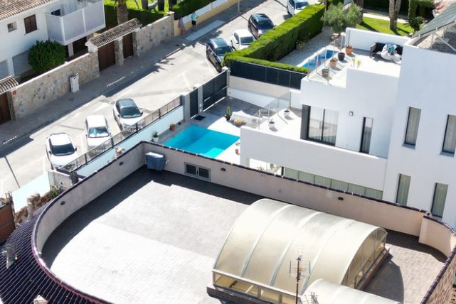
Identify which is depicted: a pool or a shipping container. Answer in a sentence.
It is a pool that can be seen here.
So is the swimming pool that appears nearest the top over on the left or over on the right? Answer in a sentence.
It is on the right.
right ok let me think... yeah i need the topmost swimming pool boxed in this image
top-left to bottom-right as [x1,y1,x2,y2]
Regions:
[299,44,343,69]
